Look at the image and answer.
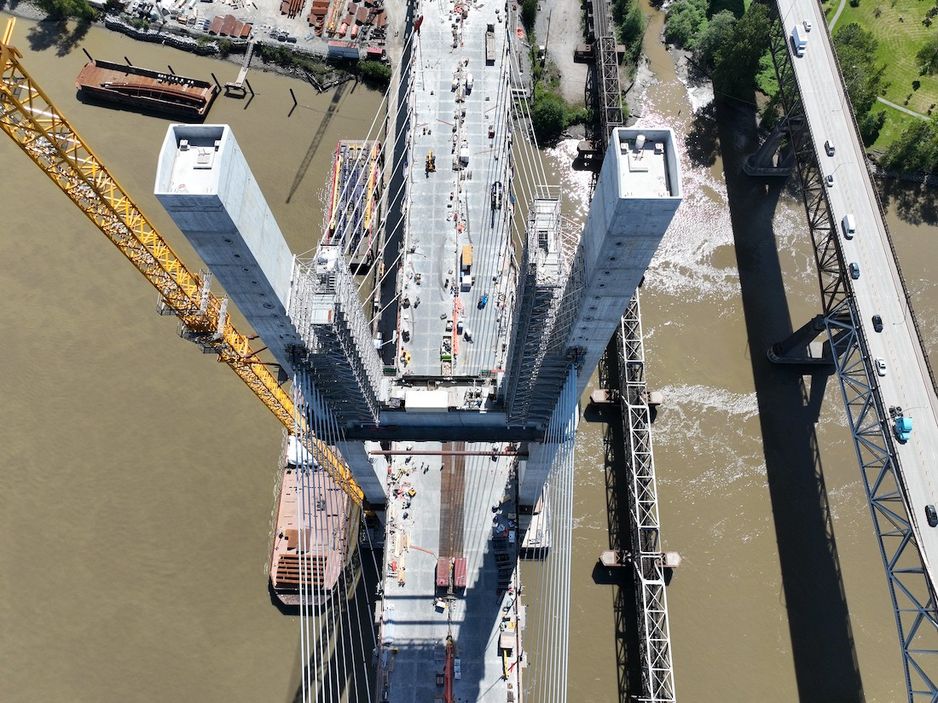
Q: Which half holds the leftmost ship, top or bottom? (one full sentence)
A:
The top half of the photo is where the leftmost ship is.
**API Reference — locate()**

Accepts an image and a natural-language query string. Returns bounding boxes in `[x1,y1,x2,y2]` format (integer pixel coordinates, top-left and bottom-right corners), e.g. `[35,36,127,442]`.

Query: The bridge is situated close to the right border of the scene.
[716,0,938,703]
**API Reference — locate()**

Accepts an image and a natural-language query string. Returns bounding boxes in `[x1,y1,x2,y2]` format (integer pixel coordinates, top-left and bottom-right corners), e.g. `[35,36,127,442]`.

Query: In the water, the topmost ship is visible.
[77,57,218,119]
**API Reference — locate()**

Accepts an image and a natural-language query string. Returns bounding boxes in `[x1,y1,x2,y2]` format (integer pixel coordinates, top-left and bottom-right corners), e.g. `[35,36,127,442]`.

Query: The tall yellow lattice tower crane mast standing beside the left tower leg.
[0,12,358,506]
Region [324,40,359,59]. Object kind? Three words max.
shed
